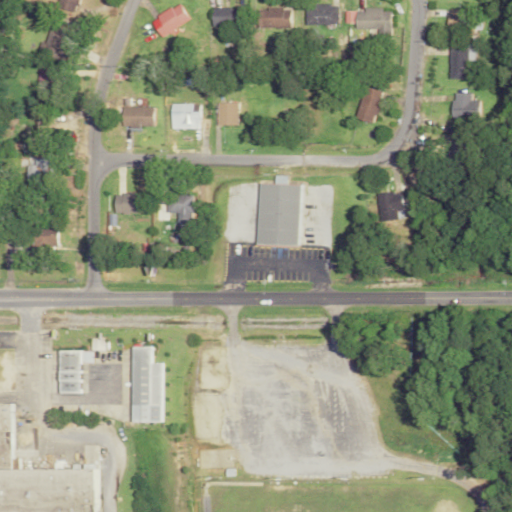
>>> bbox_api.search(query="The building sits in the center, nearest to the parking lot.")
[256,176,303,247]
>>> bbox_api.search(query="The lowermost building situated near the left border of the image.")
[0,470,102,512]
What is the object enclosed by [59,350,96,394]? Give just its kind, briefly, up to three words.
building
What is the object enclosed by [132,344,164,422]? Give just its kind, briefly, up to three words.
shed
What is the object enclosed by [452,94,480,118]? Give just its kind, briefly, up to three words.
house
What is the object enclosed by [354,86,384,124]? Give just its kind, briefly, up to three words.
house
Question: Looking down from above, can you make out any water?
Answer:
No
